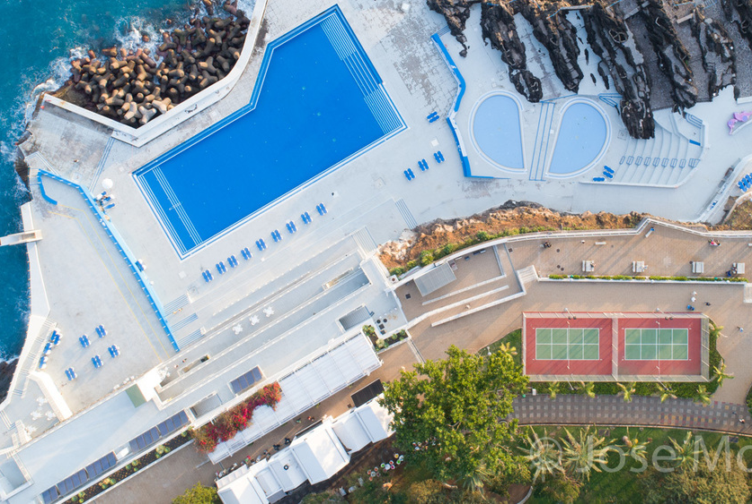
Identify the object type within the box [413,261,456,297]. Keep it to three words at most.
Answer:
building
